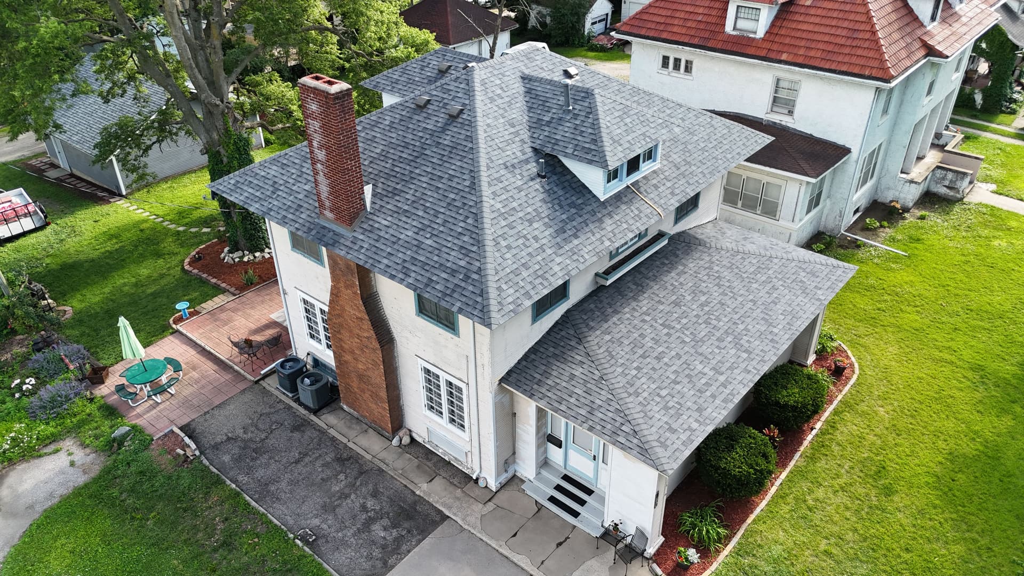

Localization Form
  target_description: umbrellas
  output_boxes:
[122,316,149,368]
